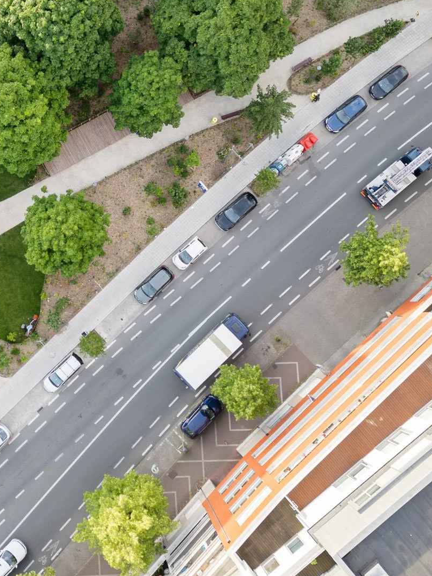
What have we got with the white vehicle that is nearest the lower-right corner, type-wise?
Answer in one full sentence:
The white vehicle that is nearest the lower-right corner in the image is a truck.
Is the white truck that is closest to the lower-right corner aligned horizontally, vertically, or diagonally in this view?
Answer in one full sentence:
The white truck that is closest to the lower-right corner runs diagonally in the image.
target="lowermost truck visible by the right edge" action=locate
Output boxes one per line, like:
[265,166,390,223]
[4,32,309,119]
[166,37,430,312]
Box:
[355,134,432,217]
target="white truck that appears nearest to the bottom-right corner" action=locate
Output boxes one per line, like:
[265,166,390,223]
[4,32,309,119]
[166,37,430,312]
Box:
[174,306,258,393]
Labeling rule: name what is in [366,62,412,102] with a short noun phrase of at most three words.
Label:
car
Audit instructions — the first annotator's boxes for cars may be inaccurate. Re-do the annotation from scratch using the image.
[170,235,210,272]
[131,262,176,305]
[42,350,87,394]
[179,393,223,441]
[213,190,260,232]
[0,537,29,576]
[322,93,369,135]
[366,62,412,102]
[0,422,13,448]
